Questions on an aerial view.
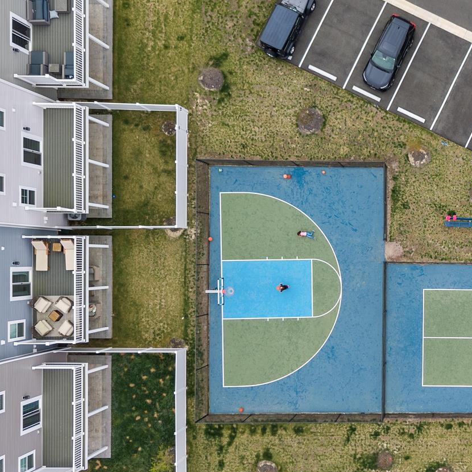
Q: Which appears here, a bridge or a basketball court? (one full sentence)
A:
The image shows a basketball court.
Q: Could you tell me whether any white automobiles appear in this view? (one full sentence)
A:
No, there's no white automobile here.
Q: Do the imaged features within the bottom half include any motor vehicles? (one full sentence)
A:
No, no motor vehicle appears within the bottom half.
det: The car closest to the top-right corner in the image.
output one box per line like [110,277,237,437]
[364,13,417,91]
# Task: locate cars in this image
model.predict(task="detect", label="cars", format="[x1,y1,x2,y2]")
[364,13,417,91]
[257,0,315,59]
